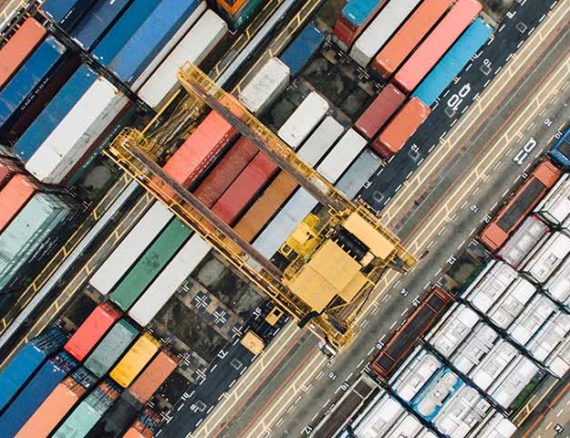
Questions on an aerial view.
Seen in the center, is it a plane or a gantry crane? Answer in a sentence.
It is a gantry crane that can be seen in the center.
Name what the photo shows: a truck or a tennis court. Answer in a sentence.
There is a truck in the scene.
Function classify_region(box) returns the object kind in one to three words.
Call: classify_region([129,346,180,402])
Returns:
shipping container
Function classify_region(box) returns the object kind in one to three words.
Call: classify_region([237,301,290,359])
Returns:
truck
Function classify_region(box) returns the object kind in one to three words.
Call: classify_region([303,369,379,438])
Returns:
shipping container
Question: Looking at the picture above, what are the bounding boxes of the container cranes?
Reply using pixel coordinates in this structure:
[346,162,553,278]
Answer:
[102,49,425,354]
